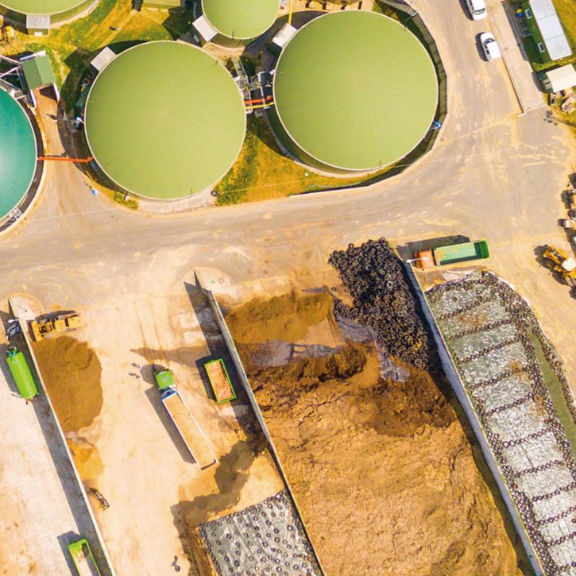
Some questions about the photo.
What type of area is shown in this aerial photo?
industrial area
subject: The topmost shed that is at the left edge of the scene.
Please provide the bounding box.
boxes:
[26,15,51,36]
